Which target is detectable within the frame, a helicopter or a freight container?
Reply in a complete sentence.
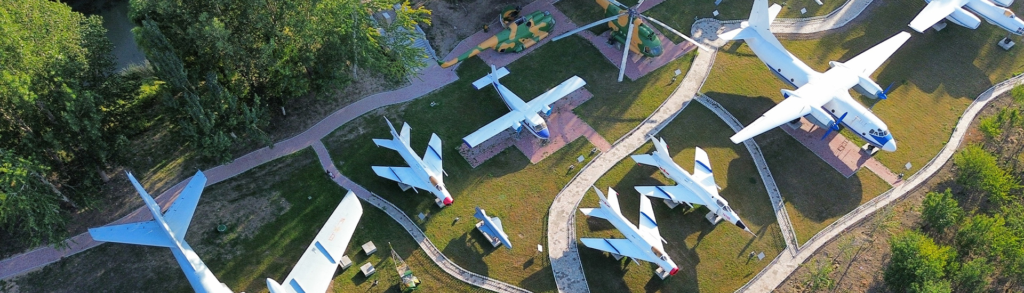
It is a helicopter that can be seen here.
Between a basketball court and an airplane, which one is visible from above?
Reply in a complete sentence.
There is an airplane in the scene.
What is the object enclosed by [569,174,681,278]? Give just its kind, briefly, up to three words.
airplane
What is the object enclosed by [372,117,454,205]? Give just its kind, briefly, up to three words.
airplane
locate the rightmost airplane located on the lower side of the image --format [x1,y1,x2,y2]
[631,134,757,244]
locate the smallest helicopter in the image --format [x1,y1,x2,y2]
[482,5,521,30]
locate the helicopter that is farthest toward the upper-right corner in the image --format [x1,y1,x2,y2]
[556,0,706,78]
